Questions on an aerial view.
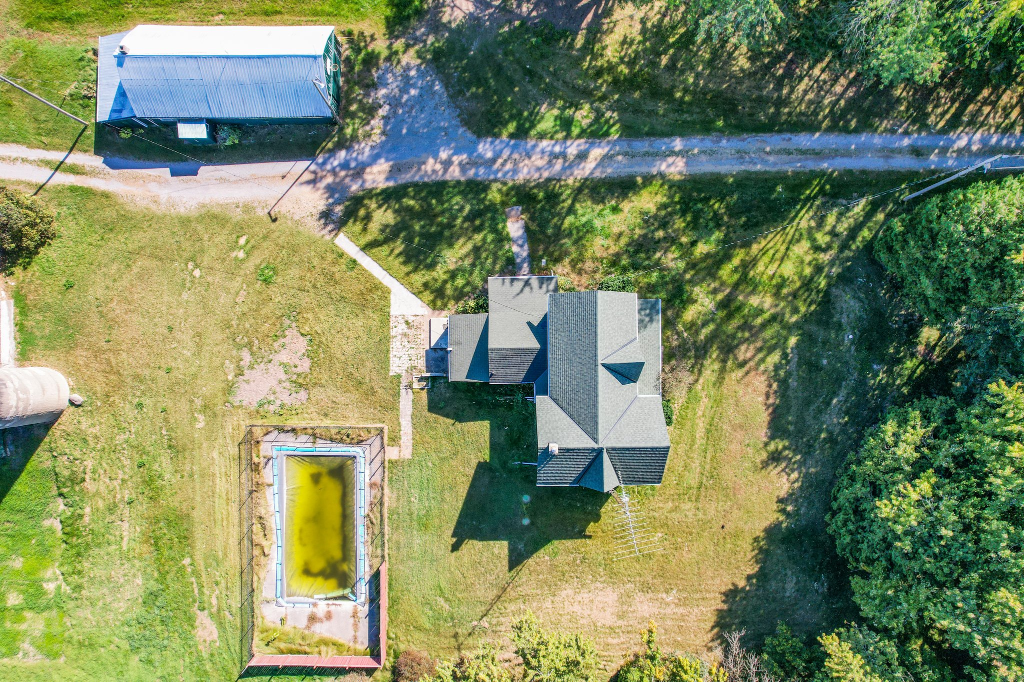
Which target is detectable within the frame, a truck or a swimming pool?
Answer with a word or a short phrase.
swimming pool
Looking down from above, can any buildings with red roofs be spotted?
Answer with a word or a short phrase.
No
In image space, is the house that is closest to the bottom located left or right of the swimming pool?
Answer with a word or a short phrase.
right of it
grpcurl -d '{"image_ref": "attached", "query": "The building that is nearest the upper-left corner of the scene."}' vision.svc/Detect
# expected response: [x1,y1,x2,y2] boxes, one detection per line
[97,24,342,148]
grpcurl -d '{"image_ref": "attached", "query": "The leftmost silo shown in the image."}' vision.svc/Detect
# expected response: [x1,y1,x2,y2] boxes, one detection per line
[0,367,69,430]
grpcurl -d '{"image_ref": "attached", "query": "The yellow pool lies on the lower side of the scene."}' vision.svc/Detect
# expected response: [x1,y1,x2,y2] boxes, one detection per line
[270,444,368,607]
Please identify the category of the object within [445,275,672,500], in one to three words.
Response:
house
